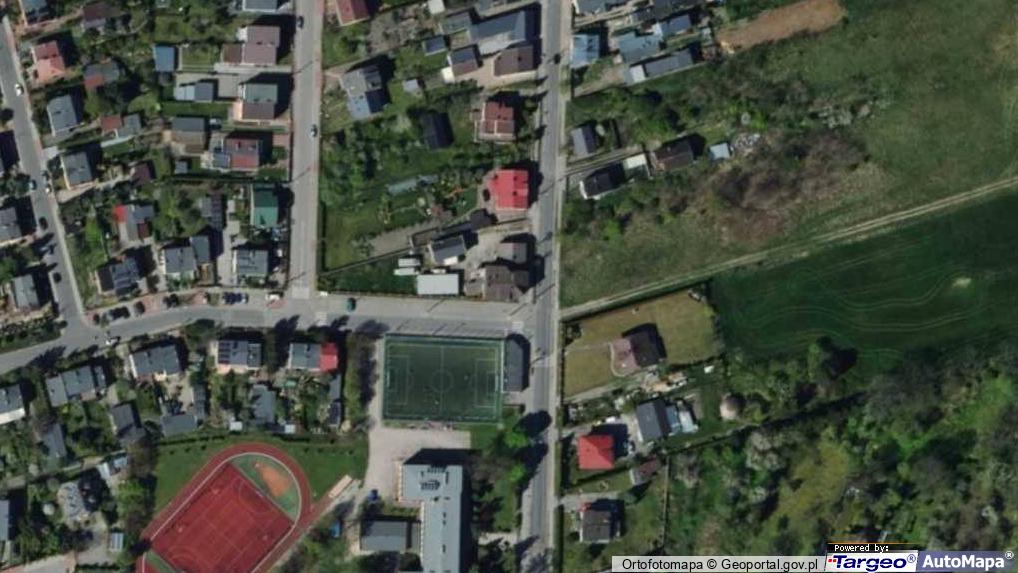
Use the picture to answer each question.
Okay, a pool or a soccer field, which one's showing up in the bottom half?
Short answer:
soccer field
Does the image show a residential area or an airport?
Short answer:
residential area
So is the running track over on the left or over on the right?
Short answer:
left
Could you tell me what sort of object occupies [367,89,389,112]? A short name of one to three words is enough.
solar panel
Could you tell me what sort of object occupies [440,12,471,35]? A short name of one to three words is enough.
shed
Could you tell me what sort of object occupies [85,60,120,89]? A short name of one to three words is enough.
house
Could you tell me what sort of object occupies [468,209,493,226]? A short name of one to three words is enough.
building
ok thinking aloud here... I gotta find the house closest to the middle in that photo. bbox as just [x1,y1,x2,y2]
[481,263,529,302]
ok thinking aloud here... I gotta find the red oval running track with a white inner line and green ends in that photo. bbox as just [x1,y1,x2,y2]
[134,443,333,573]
